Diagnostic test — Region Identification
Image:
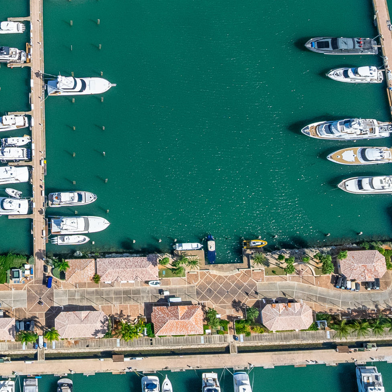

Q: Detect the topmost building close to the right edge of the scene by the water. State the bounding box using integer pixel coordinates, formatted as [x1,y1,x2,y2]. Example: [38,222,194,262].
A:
[338,251,387,283]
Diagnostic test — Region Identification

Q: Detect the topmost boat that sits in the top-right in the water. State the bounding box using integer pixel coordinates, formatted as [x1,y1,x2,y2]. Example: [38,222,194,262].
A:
[305,37,379,57]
